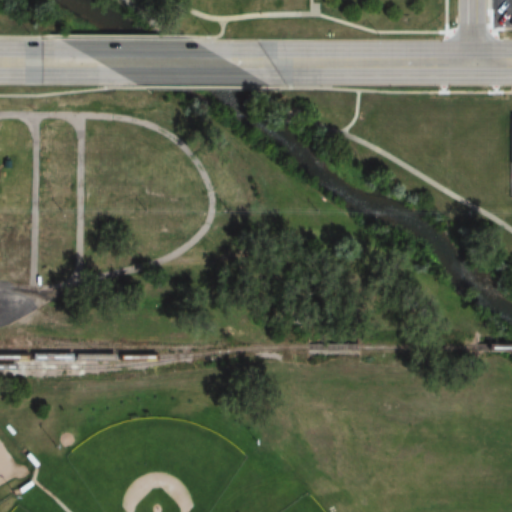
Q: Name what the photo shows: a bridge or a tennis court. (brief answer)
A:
bridge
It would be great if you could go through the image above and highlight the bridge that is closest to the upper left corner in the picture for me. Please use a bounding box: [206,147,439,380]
[50,35,276,90]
